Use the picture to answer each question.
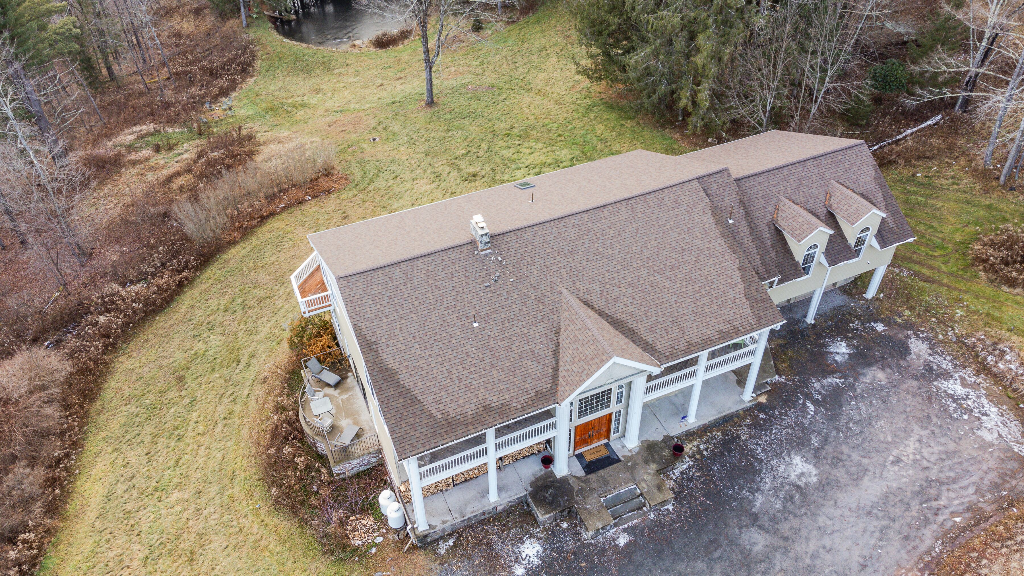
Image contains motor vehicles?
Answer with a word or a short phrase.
No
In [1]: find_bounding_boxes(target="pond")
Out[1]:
[250,0,420,50]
